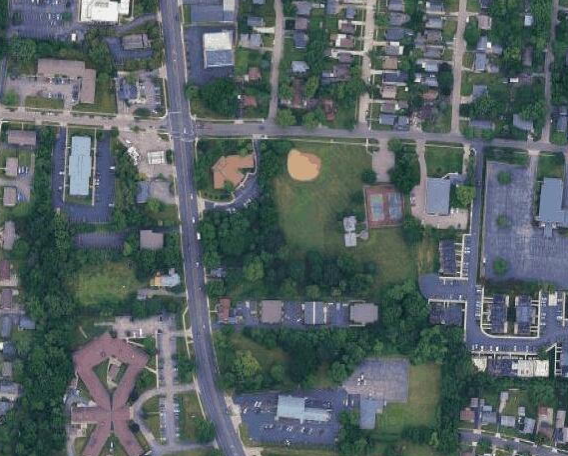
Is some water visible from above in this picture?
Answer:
No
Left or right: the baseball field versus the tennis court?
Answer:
on the left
